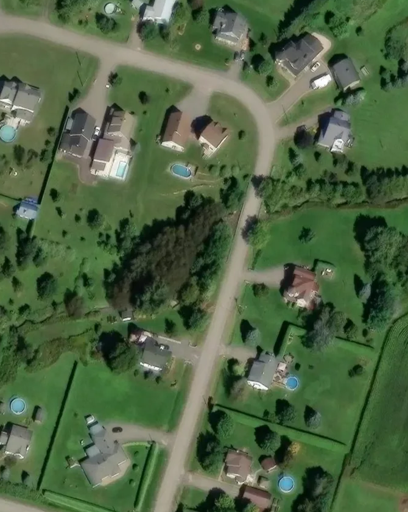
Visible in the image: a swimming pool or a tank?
swimming pool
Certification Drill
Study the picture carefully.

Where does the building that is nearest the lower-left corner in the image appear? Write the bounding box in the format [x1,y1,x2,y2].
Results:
[0,424,32,459]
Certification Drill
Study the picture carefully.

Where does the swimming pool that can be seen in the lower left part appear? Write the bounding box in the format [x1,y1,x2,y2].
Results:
[9,398,25,415]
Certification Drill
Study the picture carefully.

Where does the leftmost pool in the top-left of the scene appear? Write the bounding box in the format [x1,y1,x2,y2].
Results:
[0,125,15,142]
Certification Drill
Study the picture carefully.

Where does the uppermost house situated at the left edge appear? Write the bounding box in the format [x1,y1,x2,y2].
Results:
[0,75,41,130]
